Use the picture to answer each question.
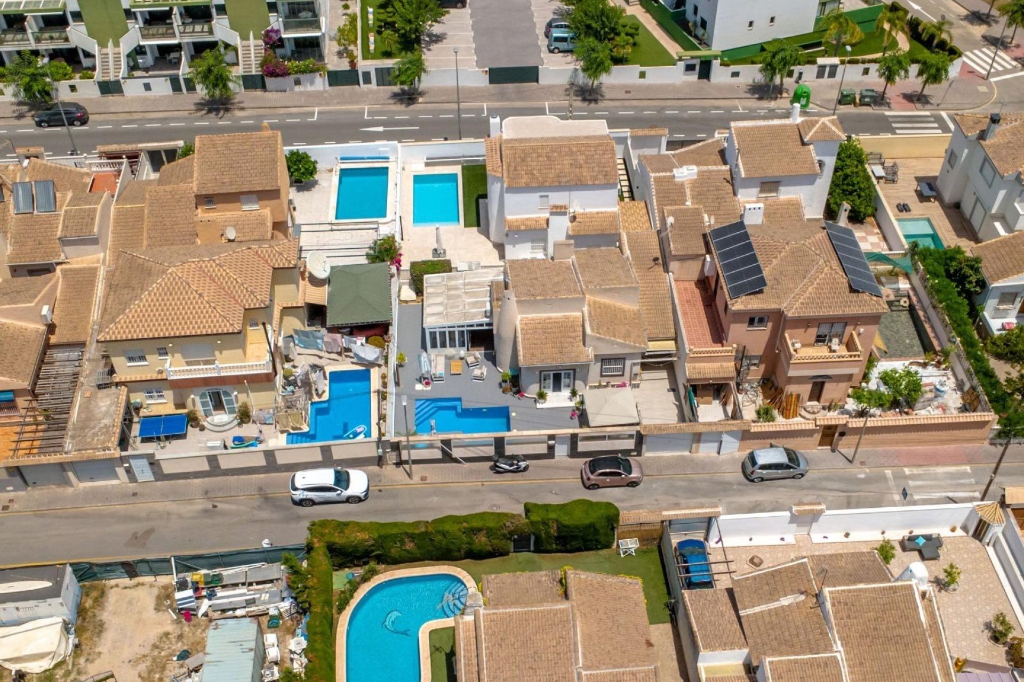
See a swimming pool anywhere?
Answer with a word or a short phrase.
Yes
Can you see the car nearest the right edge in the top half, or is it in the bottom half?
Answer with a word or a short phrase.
bottom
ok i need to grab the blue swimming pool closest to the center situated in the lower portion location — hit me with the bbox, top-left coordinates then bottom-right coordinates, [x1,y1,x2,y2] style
[415,397,510,433]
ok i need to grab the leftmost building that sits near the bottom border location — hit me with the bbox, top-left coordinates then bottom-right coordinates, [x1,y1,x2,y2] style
[457,570,658,682]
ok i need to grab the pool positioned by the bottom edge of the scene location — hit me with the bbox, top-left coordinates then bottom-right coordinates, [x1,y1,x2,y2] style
[337,565,478,682]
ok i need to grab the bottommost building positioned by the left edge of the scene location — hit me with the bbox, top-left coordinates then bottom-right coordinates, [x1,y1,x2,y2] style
[0,440,126,489]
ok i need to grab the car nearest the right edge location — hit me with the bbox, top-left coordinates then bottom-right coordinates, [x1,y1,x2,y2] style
[742,444,813,483]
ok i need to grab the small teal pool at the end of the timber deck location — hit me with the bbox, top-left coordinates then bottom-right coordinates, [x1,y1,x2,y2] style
[894,215,942,252]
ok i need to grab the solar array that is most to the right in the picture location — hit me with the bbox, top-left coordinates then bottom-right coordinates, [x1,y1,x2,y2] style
[822,220,883,306]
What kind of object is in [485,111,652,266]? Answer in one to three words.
house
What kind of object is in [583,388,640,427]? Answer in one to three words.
gazebo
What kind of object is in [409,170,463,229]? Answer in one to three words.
swimming pool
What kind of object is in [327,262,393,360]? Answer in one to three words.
building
